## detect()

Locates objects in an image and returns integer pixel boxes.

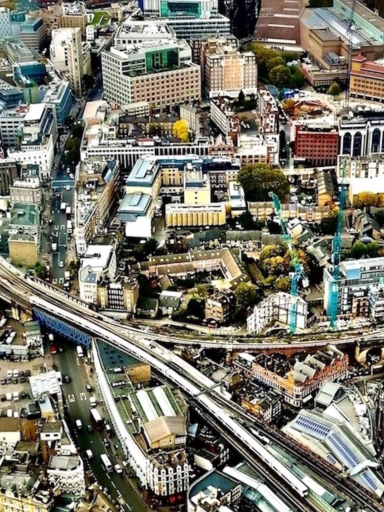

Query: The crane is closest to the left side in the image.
[270,192,313,312]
